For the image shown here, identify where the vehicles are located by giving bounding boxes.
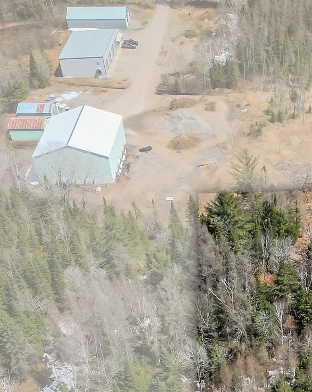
[127,39,138,45]
[122,42,135,49]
